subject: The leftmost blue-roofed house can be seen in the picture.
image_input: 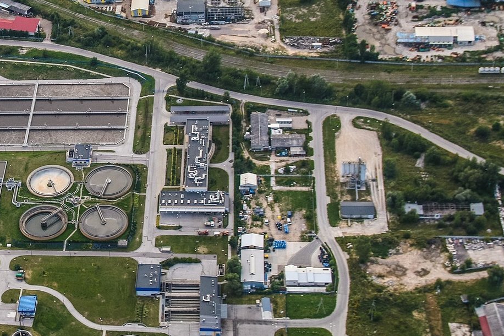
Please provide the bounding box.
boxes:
[17,296,39,318]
